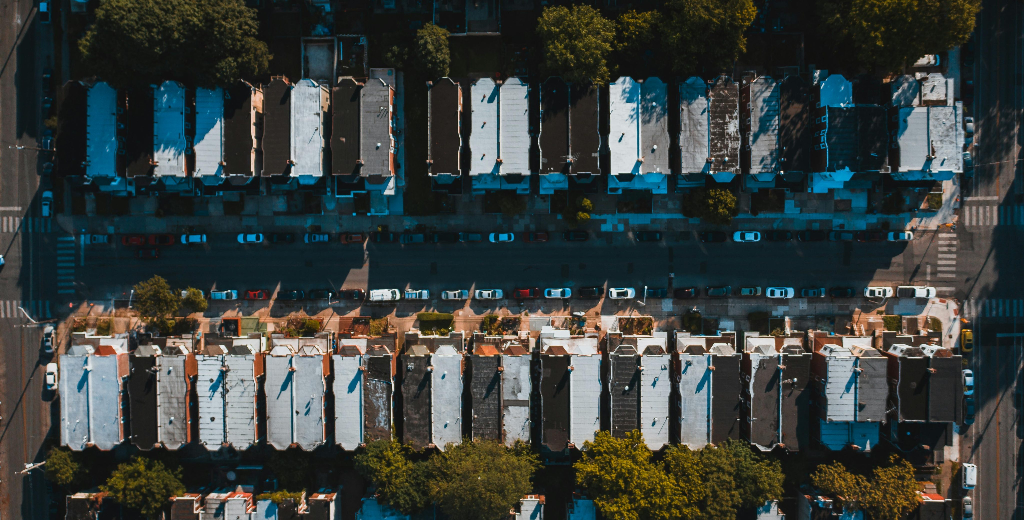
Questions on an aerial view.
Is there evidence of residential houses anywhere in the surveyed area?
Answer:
Yes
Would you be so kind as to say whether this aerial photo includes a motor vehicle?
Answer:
Yes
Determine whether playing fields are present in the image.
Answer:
No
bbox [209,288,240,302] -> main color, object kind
blue vehicle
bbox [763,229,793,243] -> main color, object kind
black car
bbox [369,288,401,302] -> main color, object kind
white vehicle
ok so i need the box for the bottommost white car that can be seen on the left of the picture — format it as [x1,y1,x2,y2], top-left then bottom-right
[44,362,59,390]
